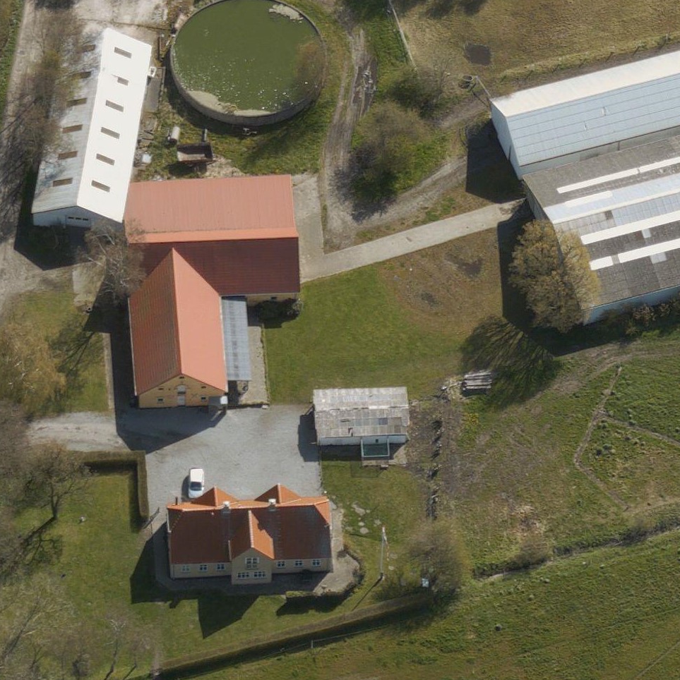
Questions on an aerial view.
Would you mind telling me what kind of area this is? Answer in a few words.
industrial area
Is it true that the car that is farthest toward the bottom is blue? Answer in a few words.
No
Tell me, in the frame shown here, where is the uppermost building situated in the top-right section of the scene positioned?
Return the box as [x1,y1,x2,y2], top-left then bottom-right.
[489,52,680,181]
